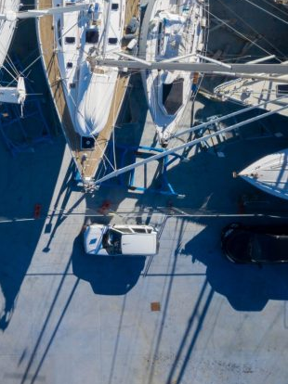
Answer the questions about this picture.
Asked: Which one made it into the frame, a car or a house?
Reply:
car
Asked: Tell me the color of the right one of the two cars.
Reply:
black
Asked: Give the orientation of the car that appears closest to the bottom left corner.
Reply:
horizontally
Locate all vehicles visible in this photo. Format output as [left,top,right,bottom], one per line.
[213,220,288,267]
[78,221,164,264]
